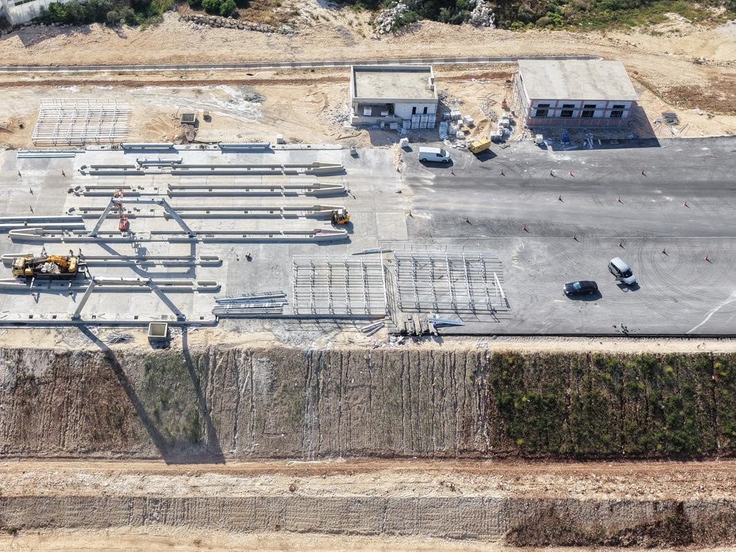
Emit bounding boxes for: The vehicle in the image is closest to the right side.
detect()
[608,256,640,286]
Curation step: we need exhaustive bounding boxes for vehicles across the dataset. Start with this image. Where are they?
[5,248,93,297]
[608,256,640,286]
[564,282,602,299]
[326,206,351,227]
[418,146,452,165]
